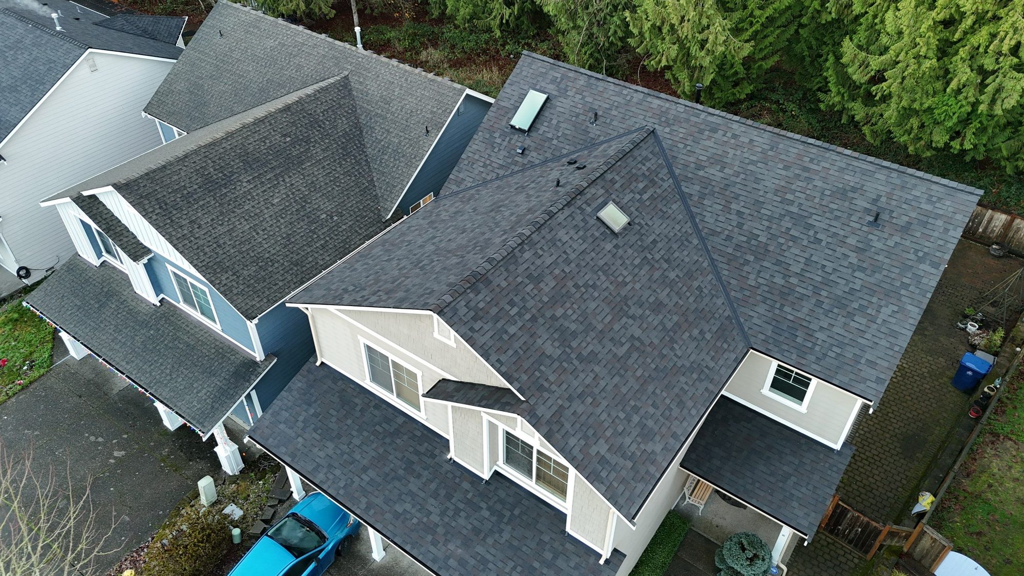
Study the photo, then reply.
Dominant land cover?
buildings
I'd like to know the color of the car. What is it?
blue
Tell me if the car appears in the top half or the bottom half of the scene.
bottom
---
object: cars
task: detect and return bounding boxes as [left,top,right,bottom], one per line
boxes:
[219,490,361,576]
